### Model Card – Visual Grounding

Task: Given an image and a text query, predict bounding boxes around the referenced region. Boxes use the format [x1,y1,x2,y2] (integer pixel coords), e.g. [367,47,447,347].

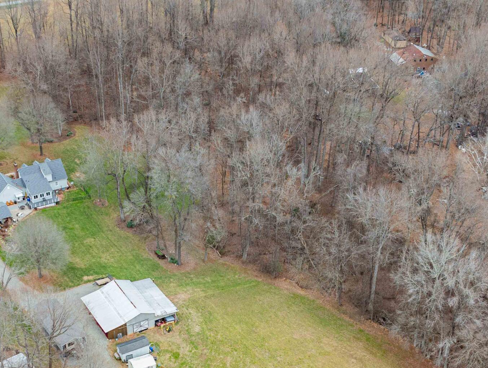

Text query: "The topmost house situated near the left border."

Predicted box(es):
[0,159,69,208]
